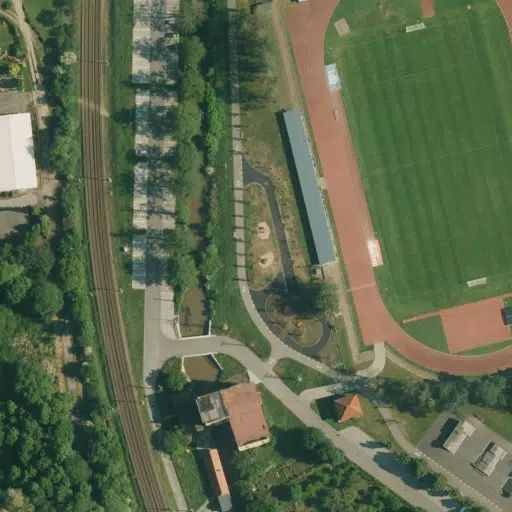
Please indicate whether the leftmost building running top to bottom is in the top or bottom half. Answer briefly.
top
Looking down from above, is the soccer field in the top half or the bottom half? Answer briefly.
top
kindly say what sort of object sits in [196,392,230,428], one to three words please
building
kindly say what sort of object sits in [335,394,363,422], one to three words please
house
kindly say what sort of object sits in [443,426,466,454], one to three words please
building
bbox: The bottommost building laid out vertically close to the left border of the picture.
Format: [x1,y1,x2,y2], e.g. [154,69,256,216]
[0,112,38,194]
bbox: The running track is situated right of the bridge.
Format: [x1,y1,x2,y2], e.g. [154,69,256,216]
[284,0,512,376]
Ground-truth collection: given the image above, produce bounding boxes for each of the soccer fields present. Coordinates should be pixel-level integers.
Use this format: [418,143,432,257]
[324,0,512,356]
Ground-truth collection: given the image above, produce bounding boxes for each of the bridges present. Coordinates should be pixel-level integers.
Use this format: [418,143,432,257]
[178,316,223,384]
